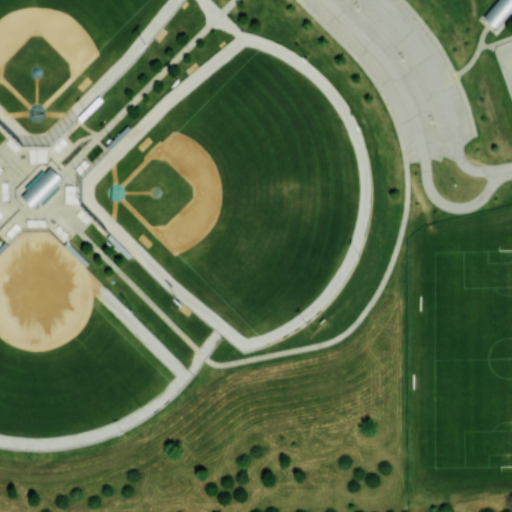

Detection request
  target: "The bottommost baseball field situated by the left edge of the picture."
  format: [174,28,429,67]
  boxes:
[0,232,194,452]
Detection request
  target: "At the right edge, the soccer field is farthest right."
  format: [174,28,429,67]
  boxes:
[428,246,512,474]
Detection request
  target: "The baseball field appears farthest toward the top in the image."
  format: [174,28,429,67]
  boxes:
[0,0,186,146]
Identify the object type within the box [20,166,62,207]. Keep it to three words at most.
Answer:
building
